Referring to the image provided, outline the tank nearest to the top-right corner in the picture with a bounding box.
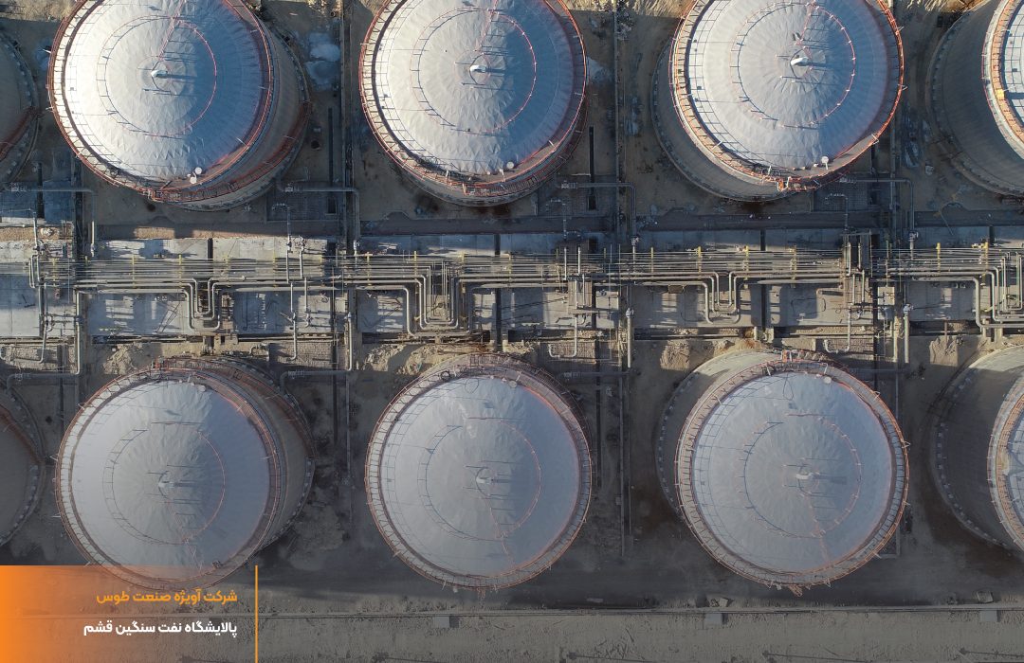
[927,0,1024,199]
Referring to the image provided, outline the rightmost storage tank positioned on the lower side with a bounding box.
[930,345,1024,555]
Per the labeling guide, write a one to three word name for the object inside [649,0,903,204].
storage tank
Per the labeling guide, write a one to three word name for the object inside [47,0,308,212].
storage tank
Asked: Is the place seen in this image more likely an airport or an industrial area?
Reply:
industrial area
